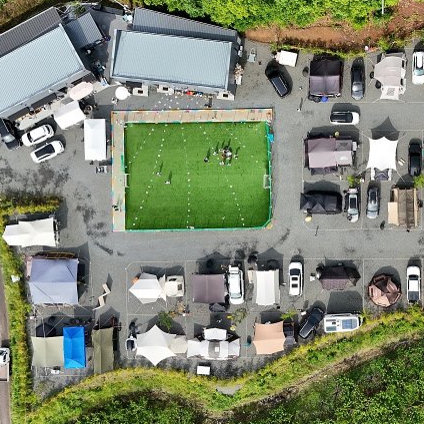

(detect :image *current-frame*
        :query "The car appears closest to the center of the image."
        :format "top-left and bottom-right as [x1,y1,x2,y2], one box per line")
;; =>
[228,266,245,305]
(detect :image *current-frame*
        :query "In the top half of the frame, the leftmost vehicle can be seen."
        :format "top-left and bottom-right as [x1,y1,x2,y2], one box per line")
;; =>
[0,116,23,151]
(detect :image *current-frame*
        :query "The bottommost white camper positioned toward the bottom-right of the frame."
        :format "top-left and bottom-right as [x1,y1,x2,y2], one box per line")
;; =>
[324,313,362,333]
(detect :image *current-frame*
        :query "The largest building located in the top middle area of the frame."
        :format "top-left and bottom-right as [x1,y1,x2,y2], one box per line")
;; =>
[111,8,241,93]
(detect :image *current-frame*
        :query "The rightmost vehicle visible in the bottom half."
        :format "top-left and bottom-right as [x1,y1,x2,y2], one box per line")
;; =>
[405,266,422,303]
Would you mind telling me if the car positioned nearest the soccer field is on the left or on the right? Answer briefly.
right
